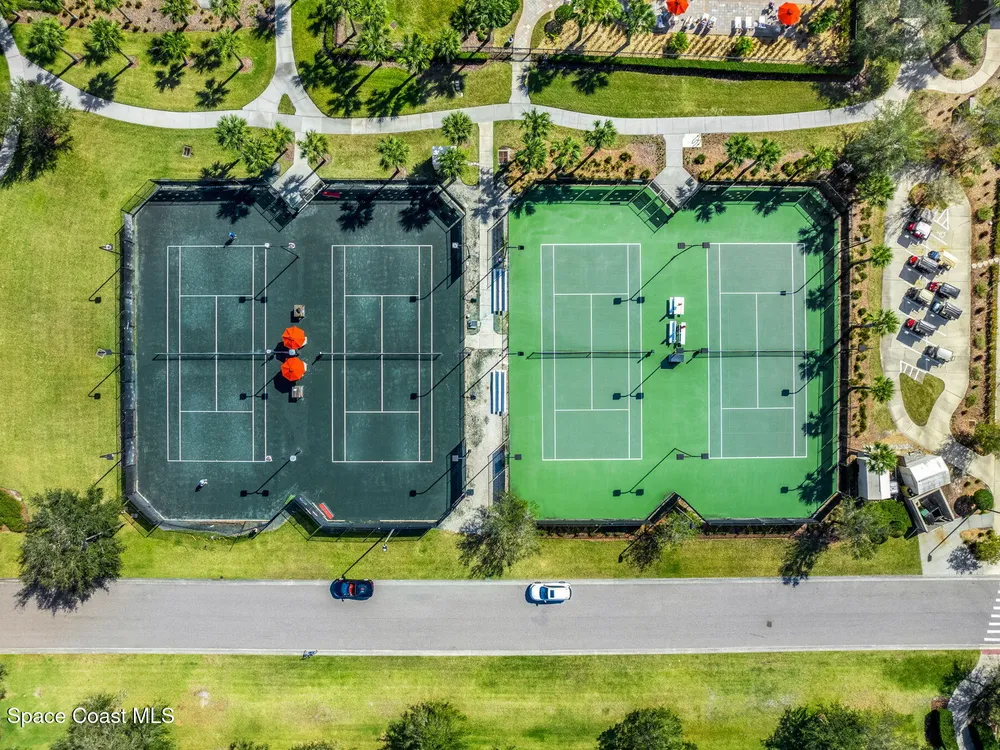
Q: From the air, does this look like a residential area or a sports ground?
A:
sports ground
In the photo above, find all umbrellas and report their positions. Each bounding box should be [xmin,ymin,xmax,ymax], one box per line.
[282,326,305,349]
[282,357,306,381]
[776,2,801,27]
[665,0,688,18]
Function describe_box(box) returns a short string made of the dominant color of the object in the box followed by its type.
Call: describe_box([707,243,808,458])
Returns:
green tennis court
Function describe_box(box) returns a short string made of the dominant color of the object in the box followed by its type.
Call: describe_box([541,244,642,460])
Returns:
green tennis court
